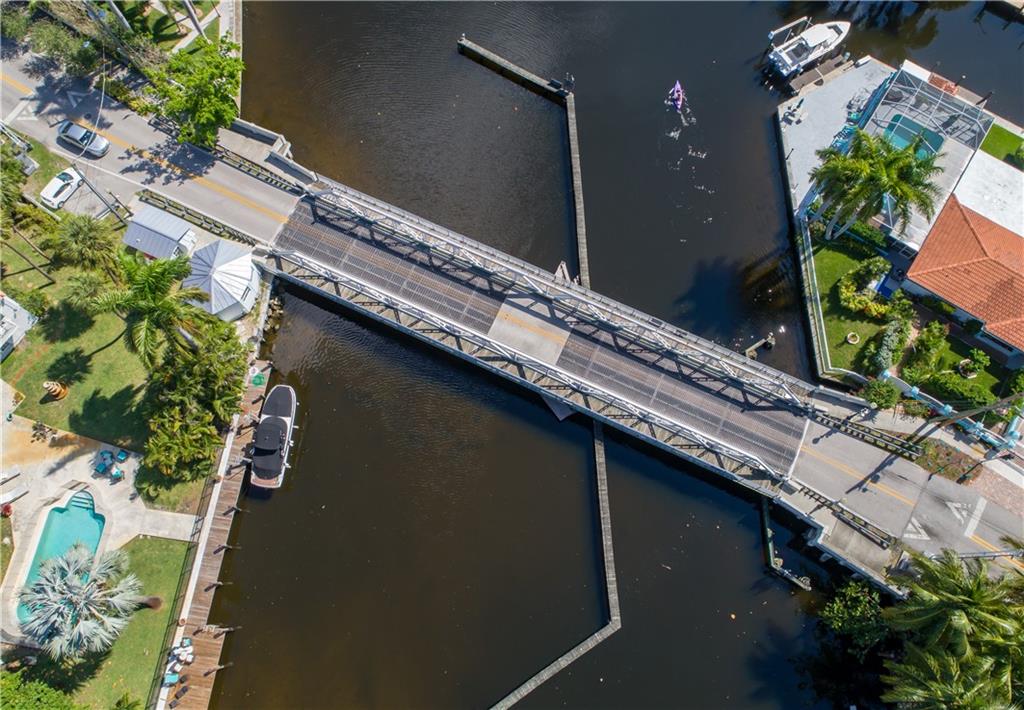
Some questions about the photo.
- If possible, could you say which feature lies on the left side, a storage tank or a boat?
boat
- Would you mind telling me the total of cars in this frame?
2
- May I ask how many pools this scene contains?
2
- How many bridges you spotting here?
one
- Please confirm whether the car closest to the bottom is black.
No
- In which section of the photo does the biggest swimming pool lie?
bottom left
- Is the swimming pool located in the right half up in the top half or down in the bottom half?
top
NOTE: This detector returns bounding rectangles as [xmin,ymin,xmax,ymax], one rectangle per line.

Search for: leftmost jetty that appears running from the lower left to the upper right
[790,51,851,96]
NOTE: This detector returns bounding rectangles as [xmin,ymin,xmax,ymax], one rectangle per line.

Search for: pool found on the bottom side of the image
[14,489,107,628]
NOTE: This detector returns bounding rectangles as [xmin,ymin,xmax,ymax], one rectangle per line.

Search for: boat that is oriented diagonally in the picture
[767,22,850,82]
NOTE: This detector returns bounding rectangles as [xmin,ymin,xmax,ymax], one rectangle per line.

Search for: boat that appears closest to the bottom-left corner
[247,385,297,487]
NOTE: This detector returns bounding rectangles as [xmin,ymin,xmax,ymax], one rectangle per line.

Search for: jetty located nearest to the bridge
[160,357,274,710]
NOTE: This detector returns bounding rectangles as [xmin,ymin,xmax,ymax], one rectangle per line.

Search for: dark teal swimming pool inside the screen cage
[882,112,946,161]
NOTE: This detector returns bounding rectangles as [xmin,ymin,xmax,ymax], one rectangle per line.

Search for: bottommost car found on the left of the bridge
[37,170,87,208]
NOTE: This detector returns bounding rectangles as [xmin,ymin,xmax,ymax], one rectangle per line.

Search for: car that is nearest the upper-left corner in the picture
[56,123,110,157]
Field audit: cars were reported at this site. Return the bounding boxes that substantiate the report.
[56,123,110,157]
[37,170,87,208]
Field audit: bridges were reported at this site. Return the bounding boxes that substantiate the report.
[253,168,879,519]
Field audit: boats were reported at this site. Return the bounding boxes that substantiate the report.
[675,80,682,110]
[767,22,850,82]
[247,385,297,487]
